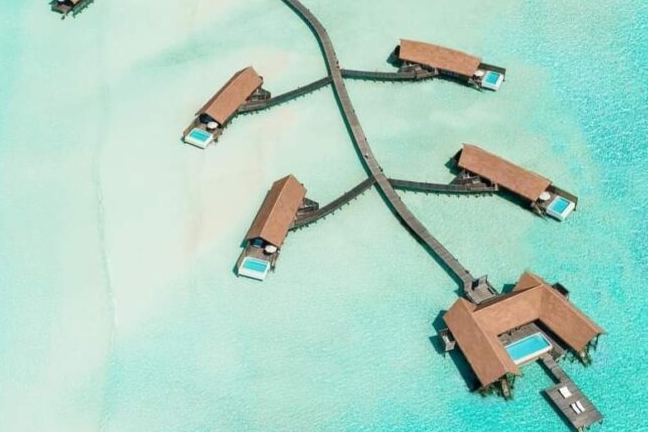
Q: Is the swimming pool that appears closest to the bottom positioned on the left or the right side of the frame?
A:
right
